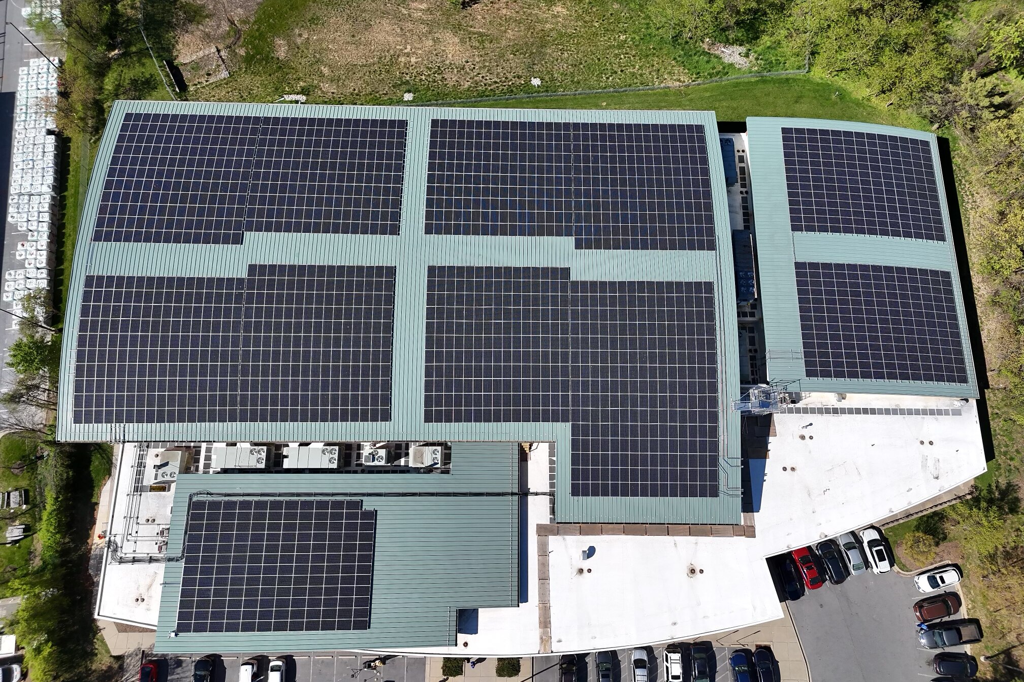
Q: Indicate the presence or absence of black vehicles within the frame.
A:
Yes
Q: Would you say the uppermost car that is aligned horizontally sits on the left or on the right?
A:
right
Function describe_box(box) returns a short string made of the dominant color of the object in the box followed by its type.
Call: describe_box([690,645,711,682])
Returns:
black car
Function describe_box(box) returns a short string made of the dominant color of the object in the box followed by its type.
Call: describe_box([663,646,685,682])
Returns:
white car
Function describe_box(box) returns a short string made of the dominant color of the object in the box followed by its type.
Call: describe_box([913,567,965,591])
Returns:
white car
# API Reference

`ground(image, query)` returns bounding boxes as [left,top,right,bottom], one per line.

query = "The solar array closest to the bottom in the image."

[176,499,374,633]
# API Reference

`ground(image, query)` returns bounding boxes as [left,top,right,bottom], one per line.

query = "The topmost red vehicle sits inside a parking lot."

[793,549,820,590]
